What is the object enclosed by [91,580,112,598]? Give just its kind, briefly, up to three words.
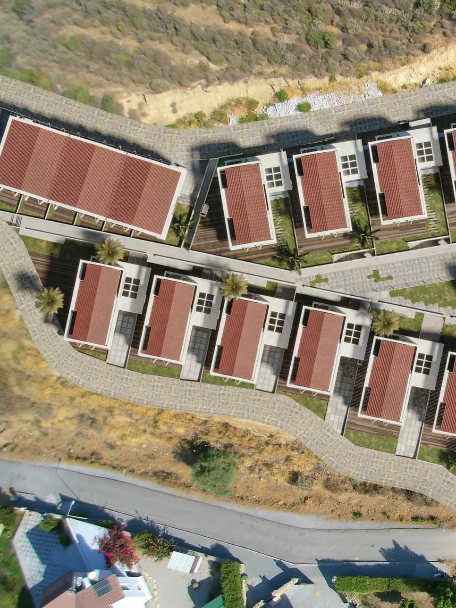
solar panel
